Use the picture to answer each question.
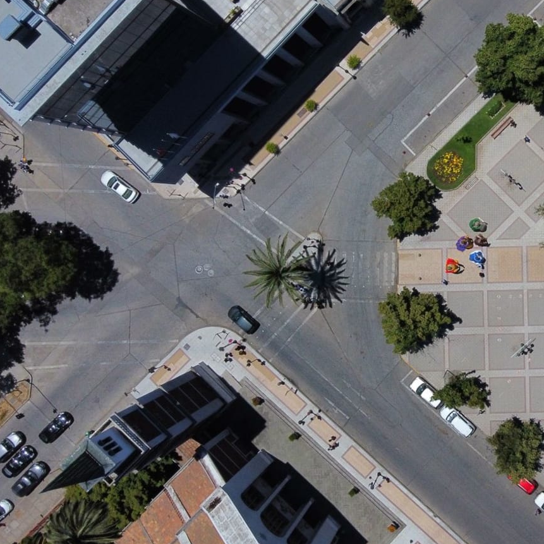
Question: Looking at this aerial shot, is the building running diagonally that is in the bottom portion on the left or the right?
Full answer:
You can find the building running diagonally that is in the bottom portion on the left side of the picture.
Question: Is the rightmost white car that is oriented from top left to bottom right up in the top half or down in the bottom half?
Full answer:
The bottom half of the photo is where the rightmost white car that is oriented from top left to bottom right is.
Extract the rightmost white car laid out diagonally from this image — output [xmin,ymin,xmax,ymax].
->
[439,407,479,441]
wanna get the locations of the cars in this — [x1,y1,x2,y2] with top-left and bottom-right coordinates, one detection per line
[408,375,441,410]
[0,428,31,463]
[226,302,263,337]
[439,407,479,441]
[8,460,53,498]
[0,444,40,478]
[0,498,17,520]
[37,410,76,444]
[500,463,536,498]
[100,169,142,205]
